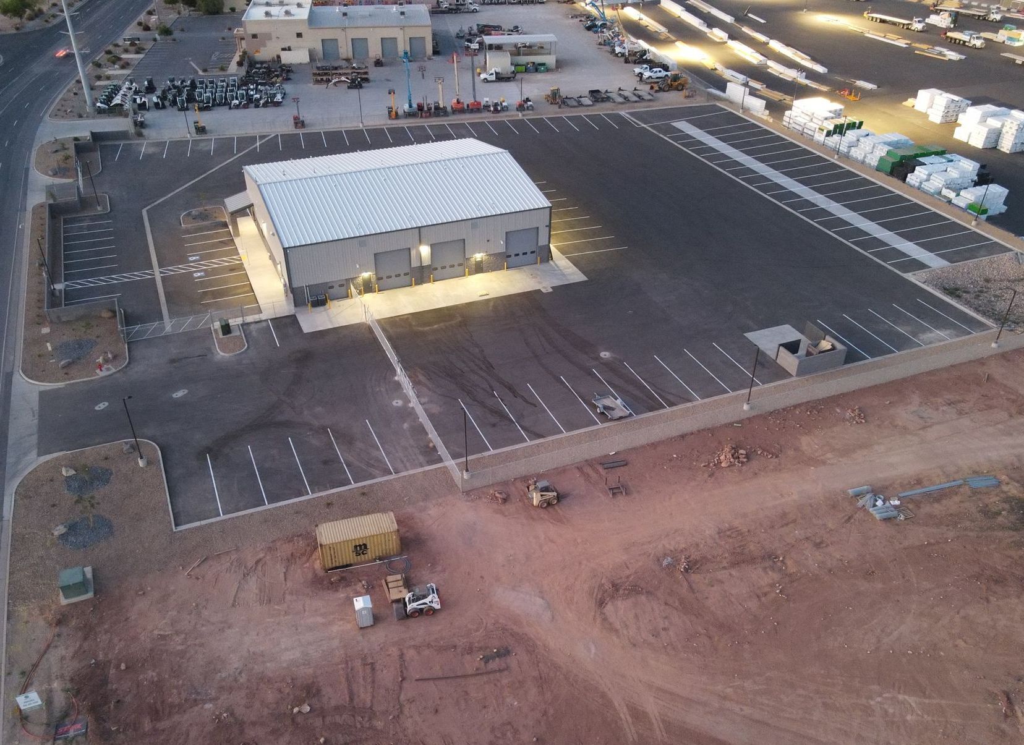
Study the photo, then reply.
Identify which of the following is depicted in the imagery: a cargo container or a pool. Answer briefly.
cargo container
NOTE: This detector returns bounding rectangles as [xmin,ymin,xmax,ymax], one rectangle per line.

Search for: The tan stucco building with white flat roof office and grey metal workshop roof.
[235,0,432,61]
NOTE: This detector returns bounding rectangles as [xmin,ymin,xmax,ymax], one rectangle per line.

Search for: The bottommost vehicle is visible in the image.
[392,577,446,620]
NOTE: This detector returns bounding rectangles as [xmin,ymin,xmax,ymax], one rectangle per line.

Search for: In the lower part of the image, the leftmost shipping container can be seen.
[314,507,403,569]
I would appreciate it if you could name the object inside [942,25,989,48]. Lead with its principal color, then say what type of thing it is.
white truck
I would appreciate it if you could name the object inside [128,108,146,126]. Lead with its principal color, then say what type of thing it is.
gray work vehicle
